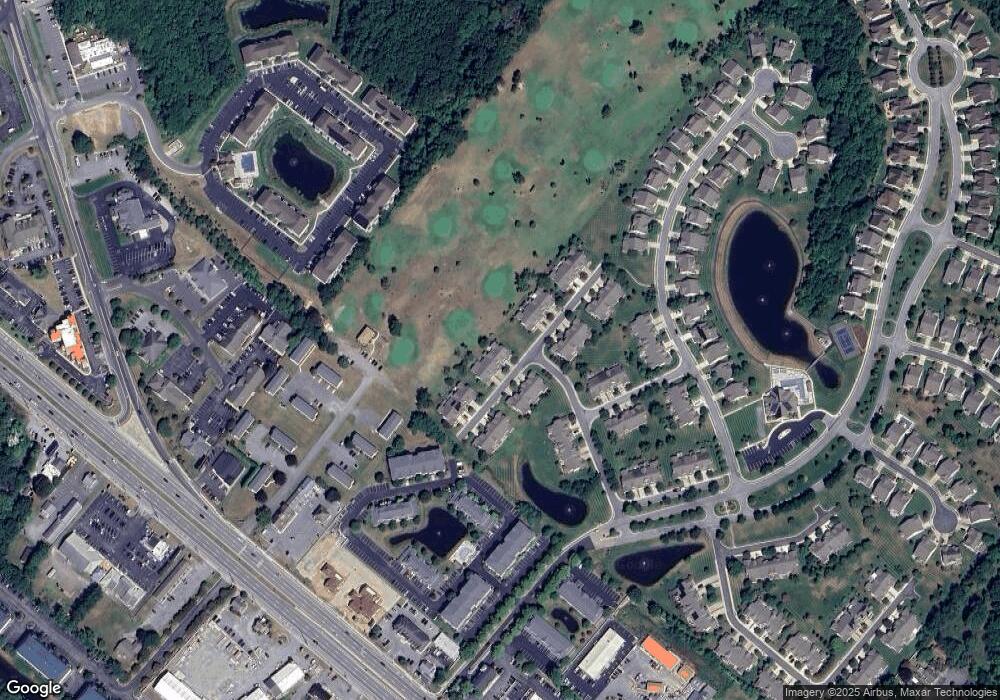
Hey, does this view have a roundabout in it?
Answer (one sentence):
Yes, this view includes a roundabout.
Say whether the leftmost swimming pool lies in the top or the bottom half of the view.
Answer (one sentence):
The top half of the photo is where the leftmost swimming pool is.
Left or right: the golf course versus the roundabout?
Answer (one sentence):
It is on the left side of the roundabout that the golf course is positioned.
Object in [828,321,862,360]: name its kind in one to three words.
sports court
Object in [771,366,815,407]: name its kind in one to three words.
swimming pool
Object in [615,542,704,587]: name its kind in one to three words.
pond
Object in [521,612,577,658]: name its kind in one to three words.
building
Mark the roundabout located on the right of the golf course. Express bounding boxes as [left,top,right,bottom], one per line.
[908,39,967,97]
